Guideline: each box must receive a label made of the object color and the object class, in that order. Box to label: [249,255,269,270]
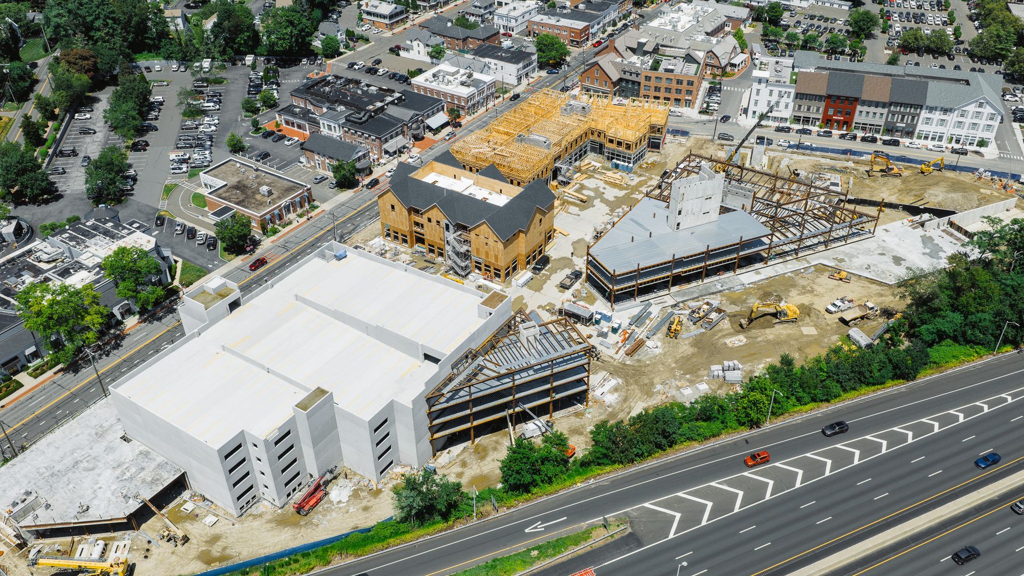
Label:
red car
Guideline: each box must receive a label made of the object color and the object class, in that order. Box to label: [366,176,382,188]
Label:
black vehicle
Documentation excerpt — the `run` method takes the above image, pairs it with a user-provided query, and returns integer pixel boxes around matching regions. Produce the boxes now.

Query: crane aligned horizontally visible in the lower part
[25,536,149,576]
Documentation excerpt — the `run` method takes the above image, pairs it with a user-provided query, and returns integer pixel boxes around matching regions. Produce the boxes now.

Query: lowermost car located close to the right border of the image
[950,545,981,566]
